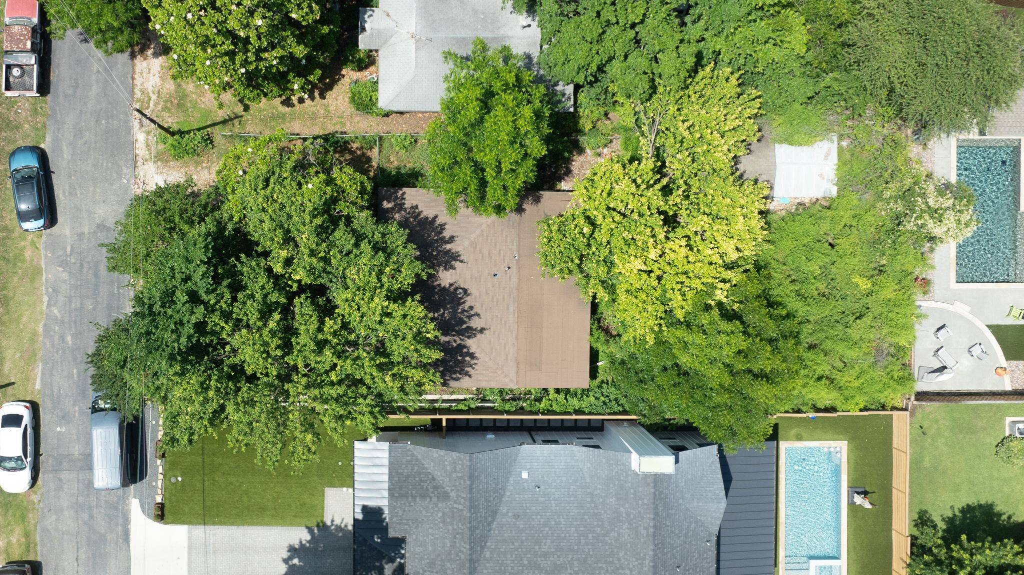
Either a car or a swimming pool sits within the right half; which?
swimming pool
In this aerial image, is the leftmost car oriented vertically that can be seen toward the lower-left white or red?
white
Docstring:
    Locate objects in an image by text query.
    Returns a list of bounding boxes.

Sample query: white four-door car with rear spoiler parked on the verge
[0,401,39,491]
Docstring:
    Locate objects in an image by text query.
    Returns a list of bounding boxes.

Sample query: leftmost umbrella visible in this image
[847,487,877,508]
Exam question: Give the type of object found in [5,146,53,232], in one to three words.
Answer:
car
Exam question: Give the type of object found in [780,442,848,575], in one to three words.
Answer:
swimming pool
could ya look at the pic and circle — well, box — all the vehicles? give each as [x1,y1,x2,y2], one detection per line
[0,401,39,491]
[0,562,34,575]
[0,0,47,100]
[5,146,53,232]
[89,394,138,496]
